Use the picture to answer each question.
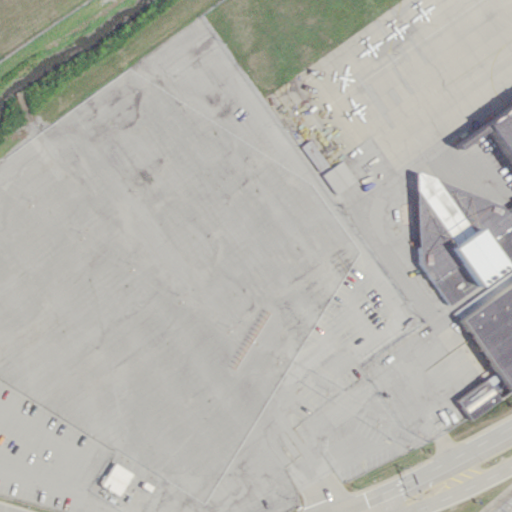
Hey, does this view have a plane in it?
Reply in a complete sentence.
Yes, a plane can be made out from above.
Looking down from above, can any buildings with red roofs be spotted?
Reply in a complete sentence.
No, there is no building with a red roof in the image.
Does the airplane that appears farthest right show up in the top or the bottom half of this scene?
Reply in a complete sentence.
Seen from above, the airplane that appears farthest right lies in the top half of the view.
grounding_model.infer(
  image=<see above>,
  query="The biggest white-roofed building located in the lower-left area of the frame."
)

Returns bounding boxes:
[100,462,136,496]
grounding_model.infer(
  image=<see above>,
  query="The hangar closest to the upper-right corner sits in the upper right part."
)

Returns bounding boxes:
[454,106,512,168]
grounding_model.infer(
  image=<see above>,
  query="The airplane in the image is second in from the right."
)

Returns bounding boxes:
[388,19,410,40]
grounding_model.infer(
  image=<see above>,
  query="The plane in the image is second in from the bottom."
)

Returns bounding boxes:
[334,66,356,92]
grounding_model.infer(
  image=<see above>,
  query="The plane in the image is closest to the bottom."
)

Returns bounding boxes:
[346,98,366,122]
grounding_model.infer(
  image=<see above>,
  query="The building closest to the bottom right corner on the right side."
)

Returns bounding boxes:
[456,376,502,419]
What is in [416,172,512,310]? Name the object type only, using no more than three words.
building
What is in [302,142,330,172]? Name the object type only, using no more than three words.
shed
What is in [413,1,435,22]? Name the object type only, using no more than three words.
airplane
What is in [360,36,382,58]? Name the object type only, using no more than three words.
airplane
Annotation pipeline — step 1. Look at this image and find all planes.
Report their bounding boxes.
[334,66,356,92]
[388,19,410,40]
[360,36,382,58]
[346,98,366,122]
[413,1,435,22]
